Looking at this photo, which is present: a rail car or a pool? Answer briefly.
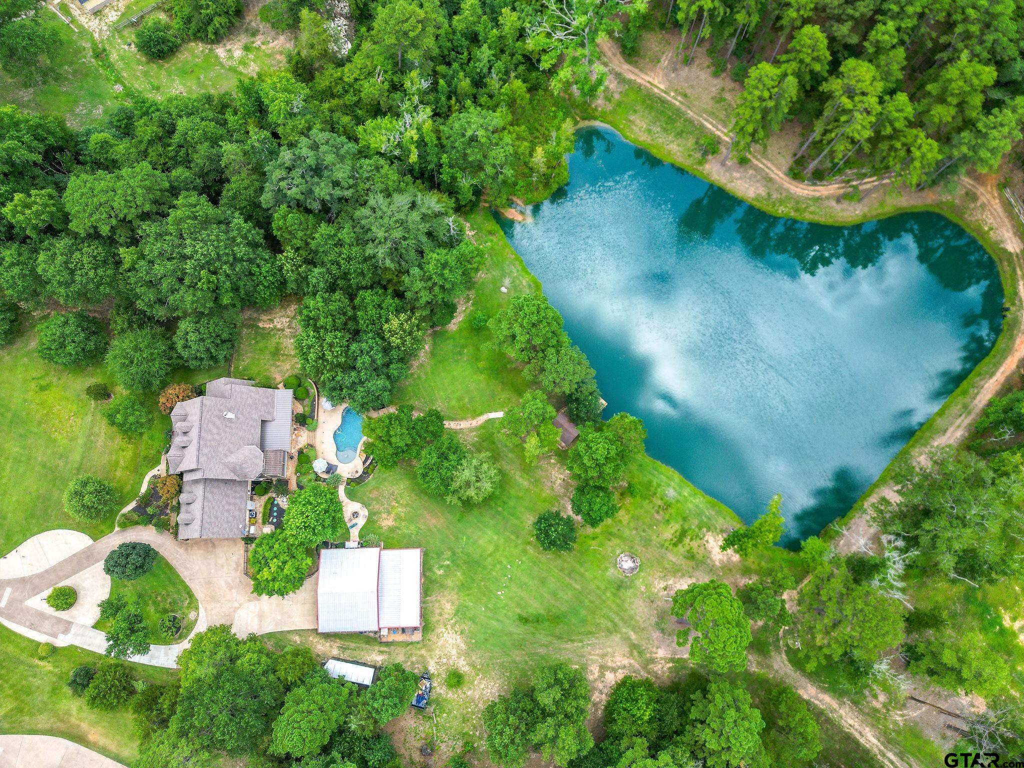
pool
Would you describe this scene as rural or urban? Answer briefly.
rural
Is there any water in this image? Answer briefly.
Yes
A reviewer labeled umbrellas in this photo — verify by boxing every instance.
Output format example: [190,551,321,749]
[313,458,328,473]
[320,397,335,410]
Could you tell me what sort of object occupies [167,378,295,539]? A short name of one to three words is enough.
house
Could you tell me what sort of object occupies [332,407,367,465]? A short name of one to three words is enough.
swimming pool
